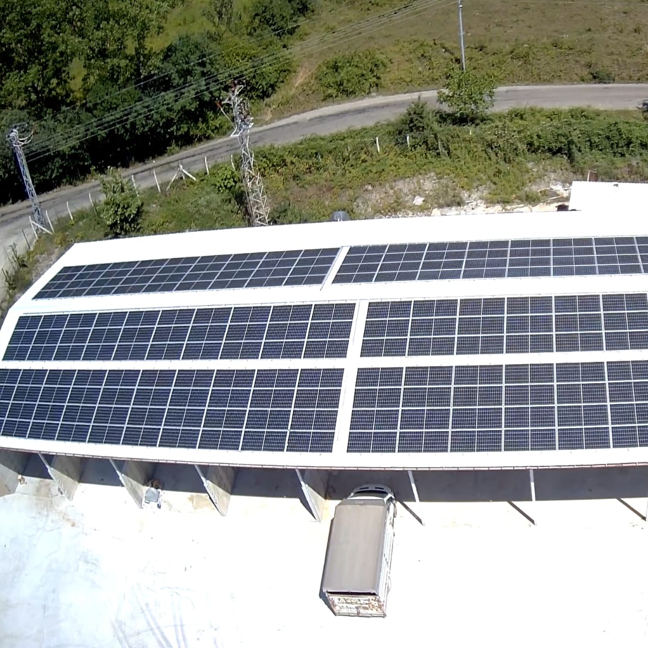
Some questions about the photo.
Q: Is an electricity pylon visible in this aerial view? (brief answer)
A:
Yes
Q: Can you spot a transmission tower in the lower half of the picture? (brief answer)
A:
No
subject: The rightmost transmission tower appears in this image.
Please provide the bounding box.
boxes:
[210,82,272,228]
